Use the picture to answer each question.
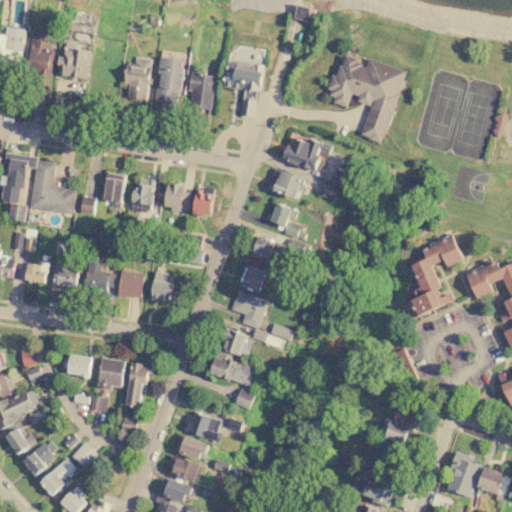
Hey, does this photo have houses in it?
Yes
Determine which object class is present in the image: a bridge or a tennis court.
tennis court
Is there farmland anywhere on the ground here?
No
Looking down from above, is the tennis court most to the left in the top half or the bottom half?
top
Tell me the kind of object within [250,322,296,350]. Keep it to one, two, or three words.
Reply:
shed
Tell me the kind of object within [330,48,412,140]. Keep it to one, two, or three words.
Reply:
building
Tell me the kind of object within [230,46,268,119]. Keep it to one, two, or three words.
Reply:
house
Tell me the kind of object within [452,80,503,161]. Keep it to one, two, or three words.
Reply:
tennis court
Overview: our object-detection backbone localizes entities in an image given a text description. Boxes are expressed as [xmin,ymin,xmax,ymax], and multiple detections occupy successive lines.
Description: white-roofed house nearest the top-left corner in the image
[0,28,29,58]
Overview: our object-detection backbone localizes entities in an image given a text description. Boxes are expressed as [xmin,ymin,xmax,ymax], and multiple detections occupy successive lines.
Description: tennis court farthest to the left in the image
[417,70,468,154]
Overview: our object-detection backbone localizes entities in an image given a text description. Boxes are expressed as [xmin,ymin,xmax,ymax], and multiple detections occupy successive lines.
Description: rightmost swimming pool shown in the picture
[48,214,62,228]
